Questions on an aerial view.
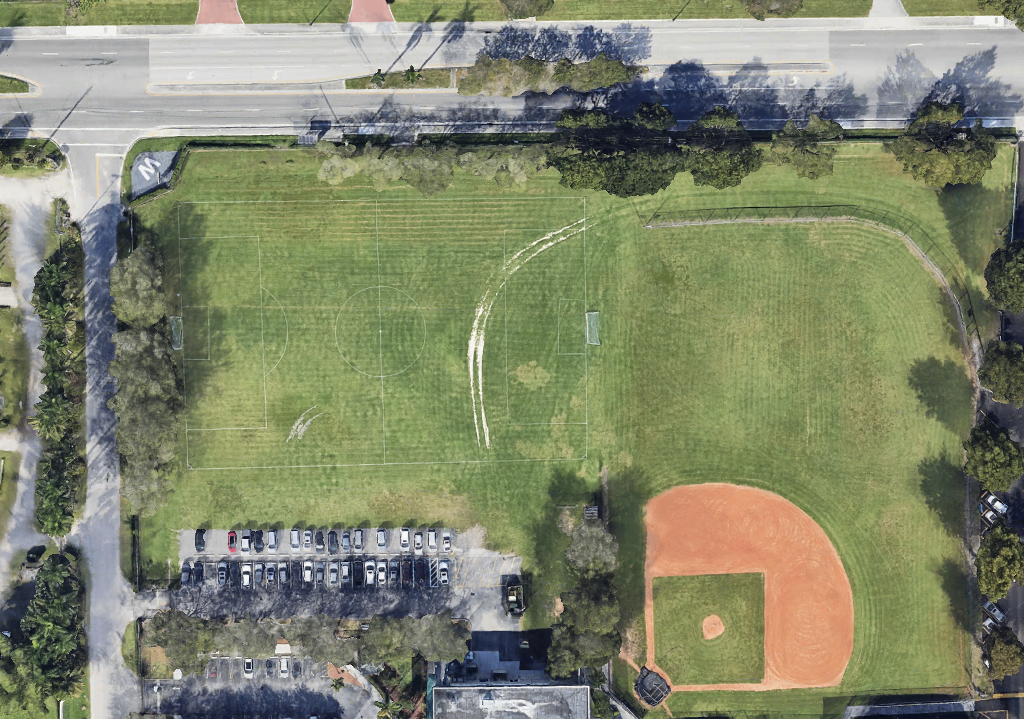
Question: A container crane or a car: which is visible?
car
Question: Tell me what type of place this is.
sports ground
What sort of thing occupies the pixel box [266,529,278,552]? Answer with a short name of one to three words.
vehicle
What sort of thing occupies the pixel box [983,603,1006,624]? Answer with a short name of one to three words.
car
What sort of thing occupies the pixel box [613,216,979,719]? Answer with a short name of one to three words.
baseball field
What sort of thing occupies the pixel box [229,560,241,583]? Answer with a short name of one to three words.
vehicle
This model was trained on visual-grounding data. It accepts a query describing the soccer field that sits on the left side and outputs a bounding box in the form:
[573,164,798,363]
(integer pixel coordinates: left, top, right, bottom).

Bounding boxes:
[175,195,591,472]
